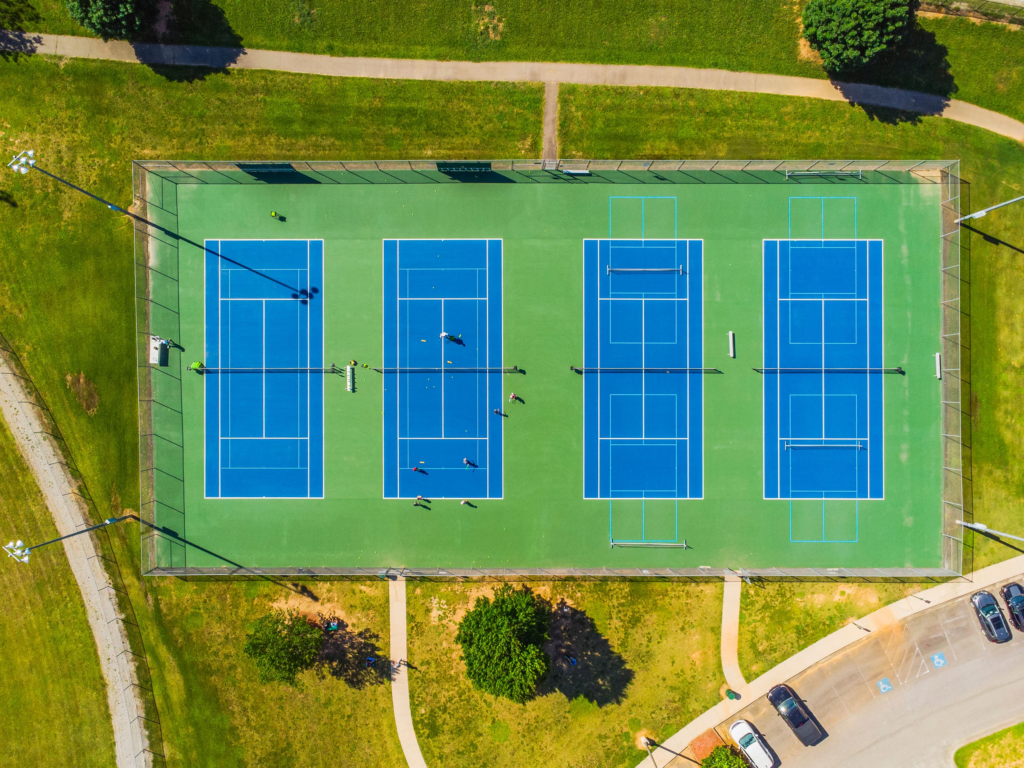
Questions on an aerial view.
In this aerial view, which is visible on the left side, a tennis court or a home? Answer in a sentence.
The feature located on the left side is a tennis court.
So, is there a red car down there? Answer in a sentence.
No, no red car is visible in the scene.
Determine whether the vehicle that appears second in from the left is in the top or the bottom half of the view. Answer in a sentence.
The bottom half of the photo is where the vehicle that appears second in from the left is.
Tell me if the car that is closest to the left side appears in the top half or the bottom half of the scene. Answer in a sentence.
The bottom half of the photo is where the car that is closest to the left side is.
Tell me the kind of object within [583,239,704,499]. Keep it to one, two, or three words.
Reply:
tennis court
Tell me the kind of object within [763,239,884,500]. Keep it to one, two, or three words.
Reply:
tennis court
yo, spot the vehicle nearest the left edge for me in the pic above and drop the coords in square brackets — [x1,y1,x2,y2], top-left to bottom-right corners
[729,721,773,768]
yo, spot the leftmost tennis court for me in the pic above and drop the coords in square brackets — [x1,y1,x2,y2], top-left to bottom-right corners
[205,239,324,499]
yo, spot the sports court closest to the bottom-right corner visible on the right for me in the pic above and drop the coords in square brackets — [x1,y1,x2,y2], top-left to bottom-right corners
[790,395,858,542]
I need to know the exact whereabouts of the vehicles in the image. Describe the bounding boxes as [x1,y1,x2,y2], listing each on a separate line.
[766,682,822,747]
[729,721,773,768]
[1001,580,1024,633]
[968,591,1009,645]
